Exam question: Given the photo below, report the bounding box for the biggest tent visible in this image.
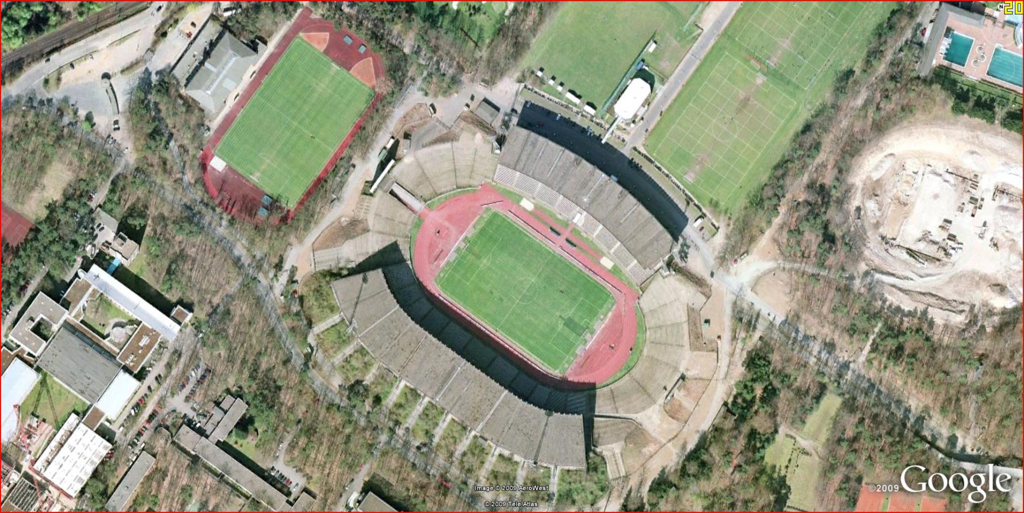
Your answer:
[613,78,652,121]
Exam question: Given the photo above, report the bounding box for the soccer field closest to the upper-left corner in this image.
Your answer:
[215,37,375,207]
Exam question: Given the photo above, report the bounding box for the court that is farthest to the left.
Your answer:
[0,206,34,252]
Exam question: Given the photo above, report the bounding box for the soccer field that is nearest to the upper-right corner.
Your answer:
[737,0,866,88]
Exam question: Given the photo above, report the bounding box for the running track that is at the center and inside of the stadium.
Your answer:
[405,183,645,392]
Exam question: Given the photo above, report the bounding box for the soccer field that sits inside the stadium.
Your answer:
[432,203,618,377]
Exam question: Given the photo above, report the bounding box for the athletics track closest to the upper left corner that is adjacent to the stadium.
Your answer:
[200,5,384,227]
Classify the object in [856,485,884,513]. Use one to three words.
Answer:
tennis court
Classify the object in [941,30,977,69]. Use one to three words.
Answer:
swimming pool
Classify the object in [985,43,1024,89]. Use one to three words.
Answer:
swimming pool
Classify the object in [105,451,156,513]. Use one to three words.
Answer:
building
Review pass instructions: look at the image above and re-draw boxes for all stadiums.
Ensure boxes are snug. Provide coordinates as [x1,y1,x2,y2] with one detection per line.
[302,125,704,509]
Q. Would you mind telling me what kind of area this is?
sports ground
